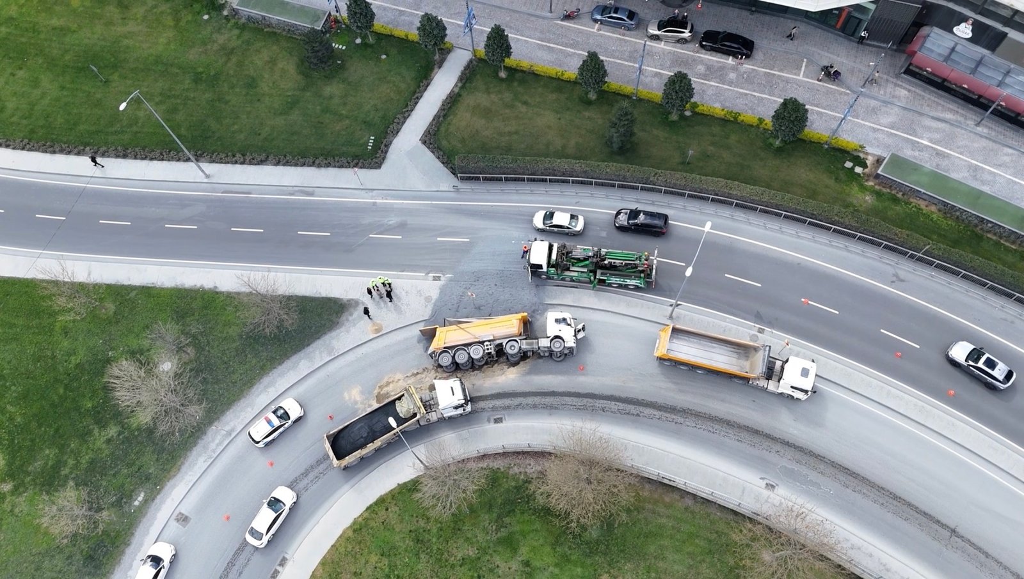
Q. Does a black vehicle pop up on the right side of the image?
Yes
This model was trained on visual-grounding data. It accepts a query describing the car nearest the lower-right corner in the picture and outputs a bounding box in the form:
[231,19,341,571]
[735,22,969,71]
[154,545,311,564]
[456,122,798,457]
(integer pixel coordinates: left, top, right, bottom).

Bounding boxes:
[943,346,1015,392]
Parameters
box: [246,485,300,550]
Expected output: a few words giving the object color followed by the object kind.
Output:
white car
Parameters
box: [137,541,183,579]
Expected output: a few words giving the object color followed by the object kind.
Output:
white car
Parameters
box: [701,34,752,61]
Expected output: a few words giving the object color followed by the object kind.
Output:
black car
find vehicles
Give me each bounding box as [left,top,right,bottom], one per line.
[701,34,752,61]
[592,7,638,31]
[247,401,307,449]
[320,371,477,469]
[647,18,693,46]
[563,7,578,18]
[137,541,183,579]
[246,485,300,550]
[656,319,821,404]
[614,209,668,237]
[533,209,585,236]
[526,235,656,296]
[943,346,1015,392]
